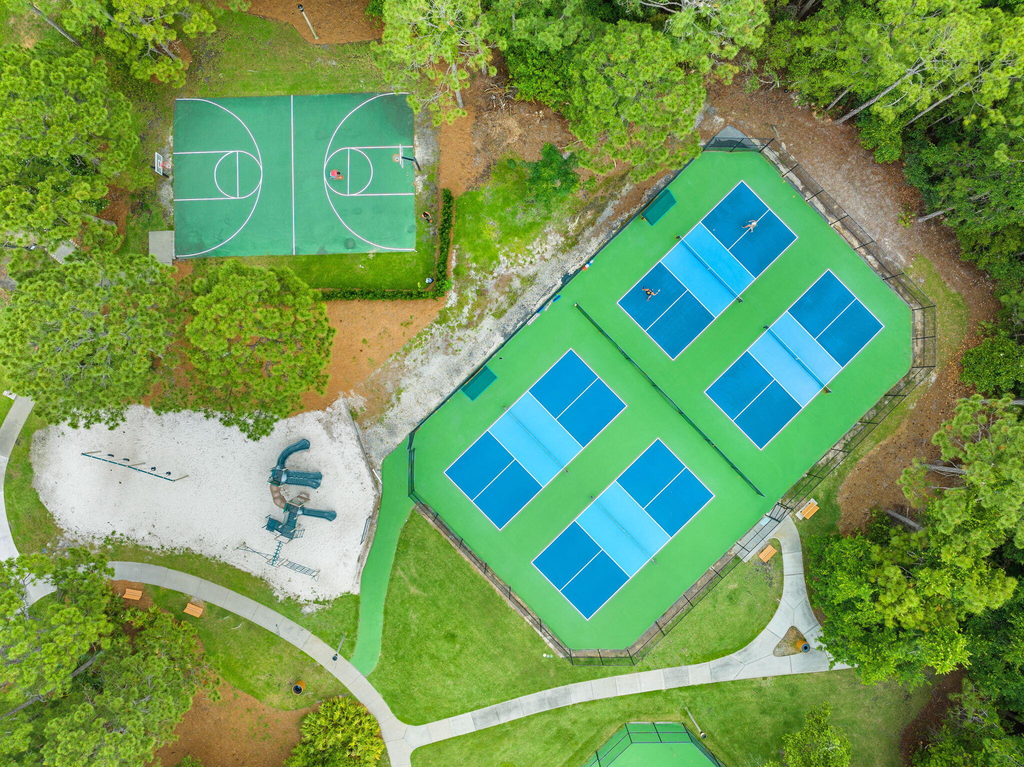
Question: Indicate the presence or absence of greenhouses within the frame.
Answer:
No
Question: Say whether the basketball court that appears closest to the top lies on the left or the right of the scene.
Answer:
left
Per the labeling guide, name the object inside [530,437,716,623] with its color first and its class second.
blue sports court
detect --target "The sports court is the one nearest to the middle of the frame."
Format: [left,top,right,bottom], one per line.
[442,347,629,532]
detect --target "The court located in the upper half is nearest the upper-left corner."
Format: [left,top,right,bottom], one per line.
[173,91,417,260]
